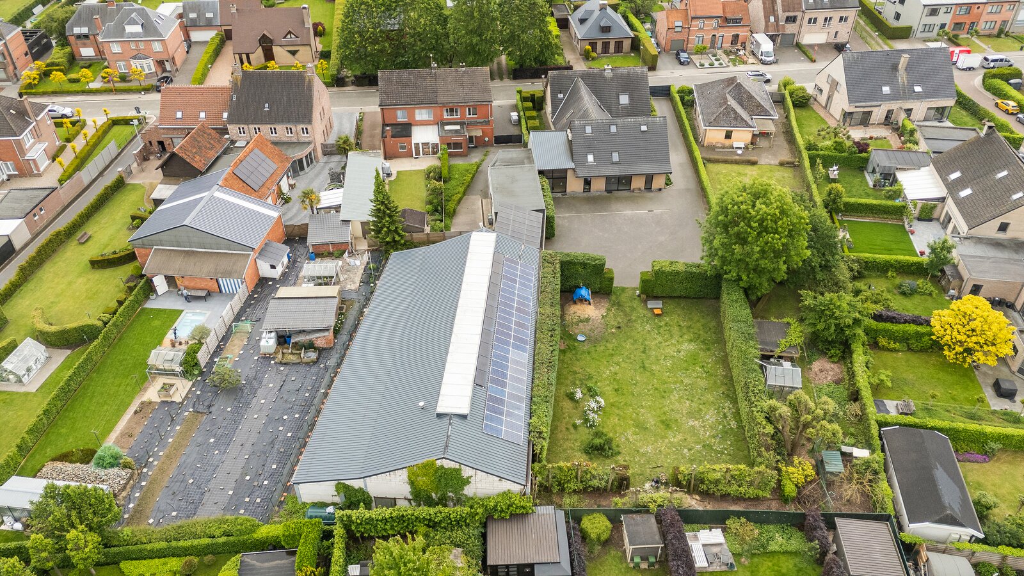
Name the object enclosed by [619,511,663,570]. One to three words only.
shed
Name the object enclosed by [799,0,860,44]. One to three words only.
house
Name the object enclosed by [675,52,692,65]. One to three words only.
vehicle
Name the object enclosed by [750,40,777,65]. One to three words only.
truck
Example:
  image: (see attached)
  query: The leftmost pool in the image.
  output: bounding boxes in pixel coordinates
[169,309,212,340]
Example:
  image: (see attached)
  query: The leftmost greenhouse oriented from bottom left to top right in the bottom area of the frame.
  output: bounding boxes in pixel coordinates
[0,336,66,392]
